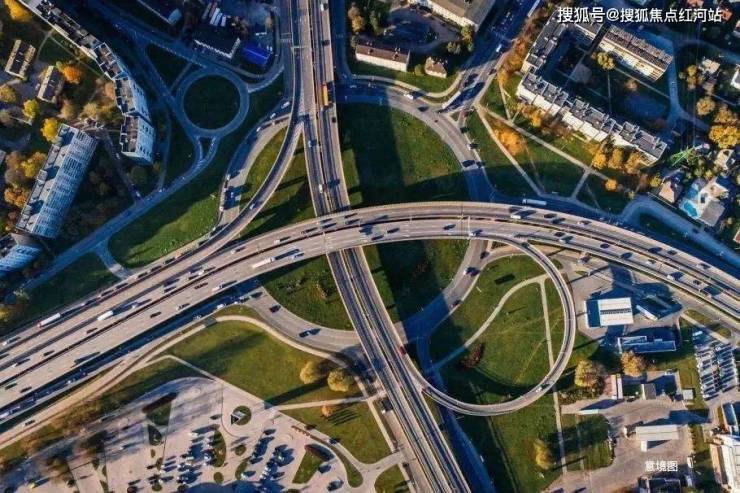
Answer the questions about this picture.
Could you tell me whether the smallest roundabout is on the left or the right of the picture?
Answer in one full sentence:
The smallest roundabout is on the left side of the image.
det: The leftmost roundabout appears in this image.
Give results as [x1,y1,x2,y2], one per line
[176,66,248,138]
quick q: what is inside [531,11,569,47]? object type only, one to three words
building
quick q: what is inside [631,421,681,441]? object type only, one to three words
building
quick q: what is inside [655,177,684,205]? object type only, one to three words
house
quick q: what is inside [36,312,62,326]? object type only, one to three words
vehicle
